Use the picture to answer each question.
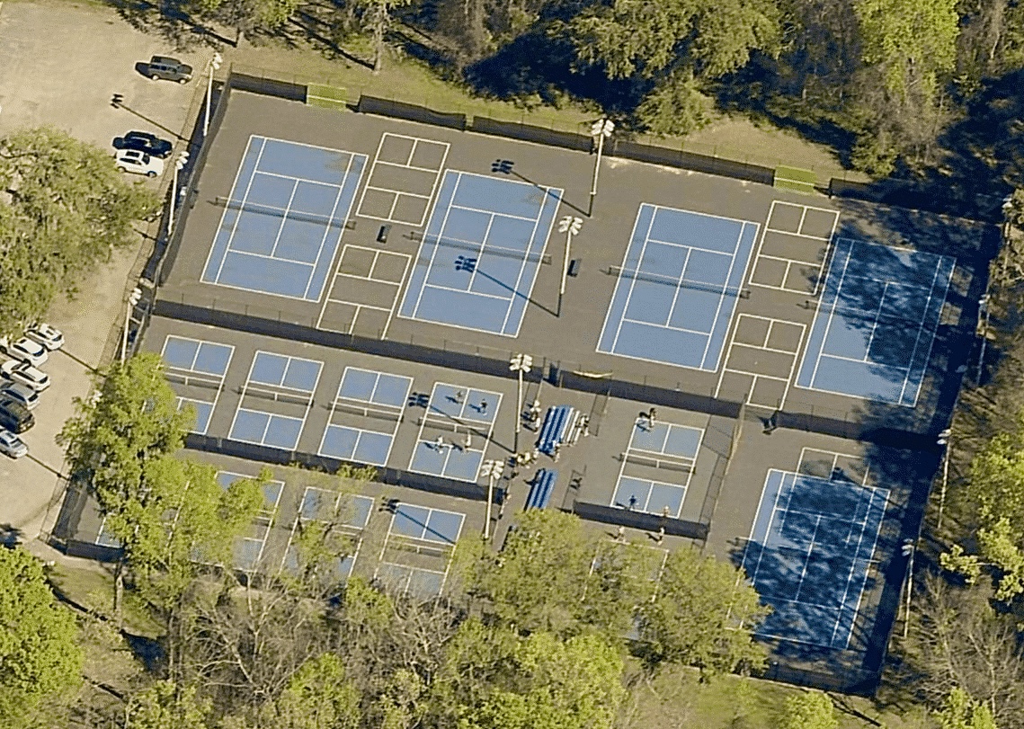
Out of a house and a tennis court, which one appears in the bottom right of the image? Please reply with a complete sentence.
There is a tennis court in the bottom right of the image.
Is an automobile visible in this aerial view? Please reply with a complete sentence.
Yes, an automobile appears in the view.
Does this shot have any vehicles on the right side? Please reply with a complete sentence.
No, I can find no vehicle on the right side.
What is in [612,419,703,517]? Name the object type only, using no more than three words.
sports court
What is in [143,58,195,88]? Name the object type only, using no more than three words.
car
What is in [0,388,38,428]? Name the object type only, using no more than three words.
car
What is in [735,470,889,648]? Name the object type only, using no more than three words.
tennis court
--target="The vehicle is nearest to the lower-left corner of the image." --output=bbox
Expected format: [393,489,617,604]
[0,424,31,456]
